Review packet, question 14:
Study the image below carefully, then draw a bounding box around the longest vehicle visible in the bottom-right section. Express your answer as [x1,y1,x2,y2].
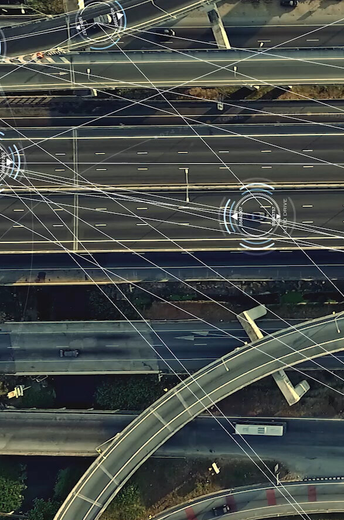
[232,423,286,438]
